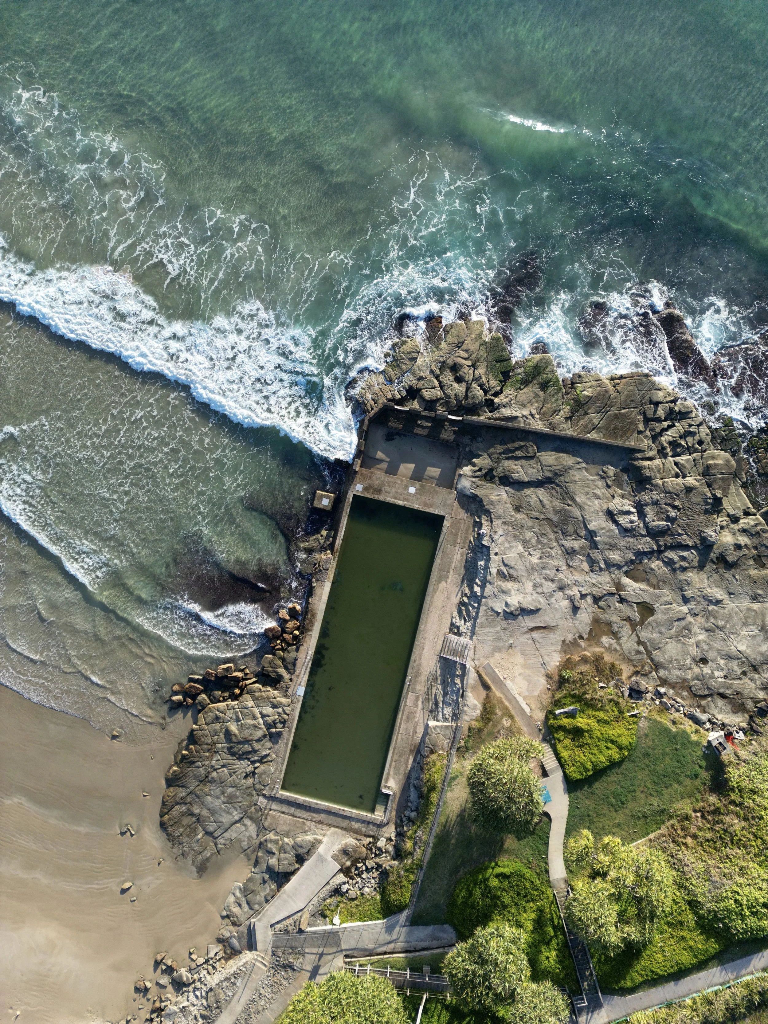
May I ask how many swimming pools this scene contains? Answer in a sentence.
The picture shows 1 swimming pool.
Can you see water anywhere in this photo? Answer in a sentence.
Yes, there's water in this view.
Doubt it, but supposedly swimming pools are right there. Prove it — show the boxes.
[258,468,472,844]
